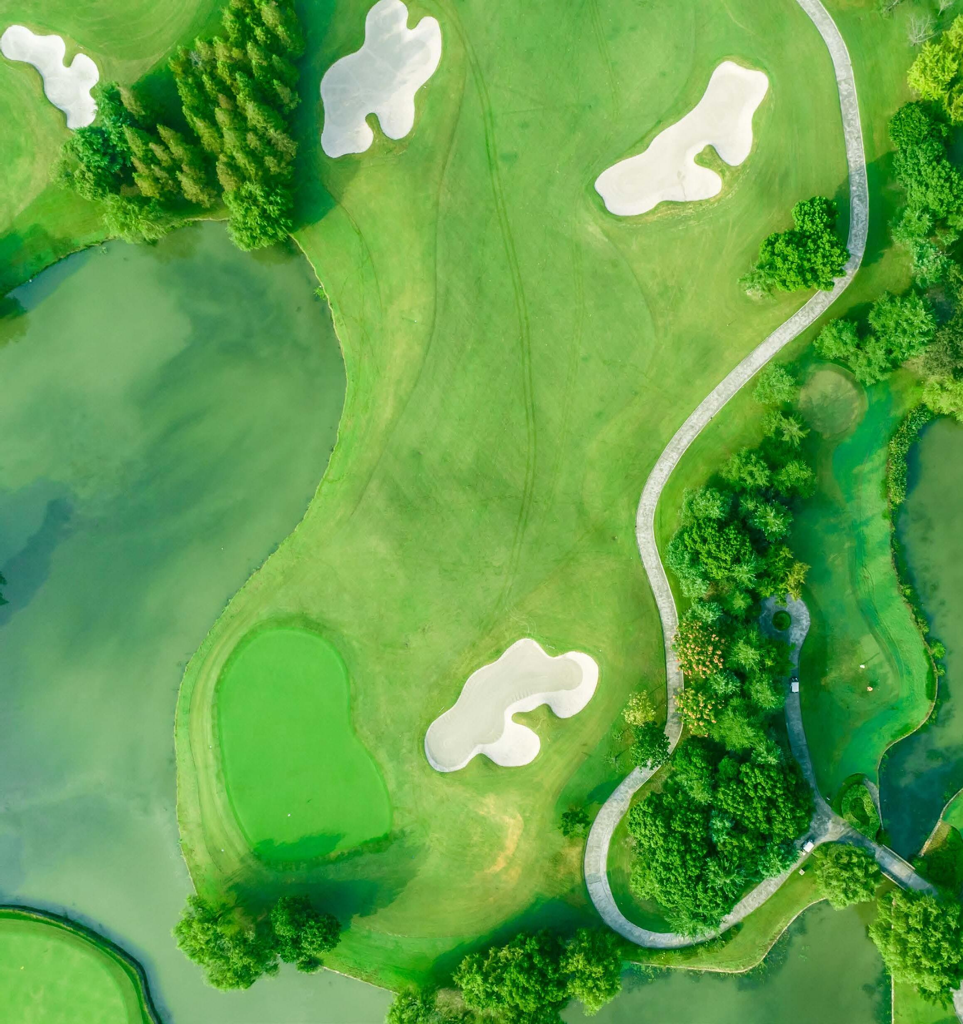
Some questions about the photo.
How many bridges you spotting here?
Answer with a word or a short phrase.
1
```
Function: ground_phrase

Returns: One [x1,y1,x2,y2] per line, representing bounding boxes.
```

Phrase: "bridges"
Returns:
[876,843,928,892]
